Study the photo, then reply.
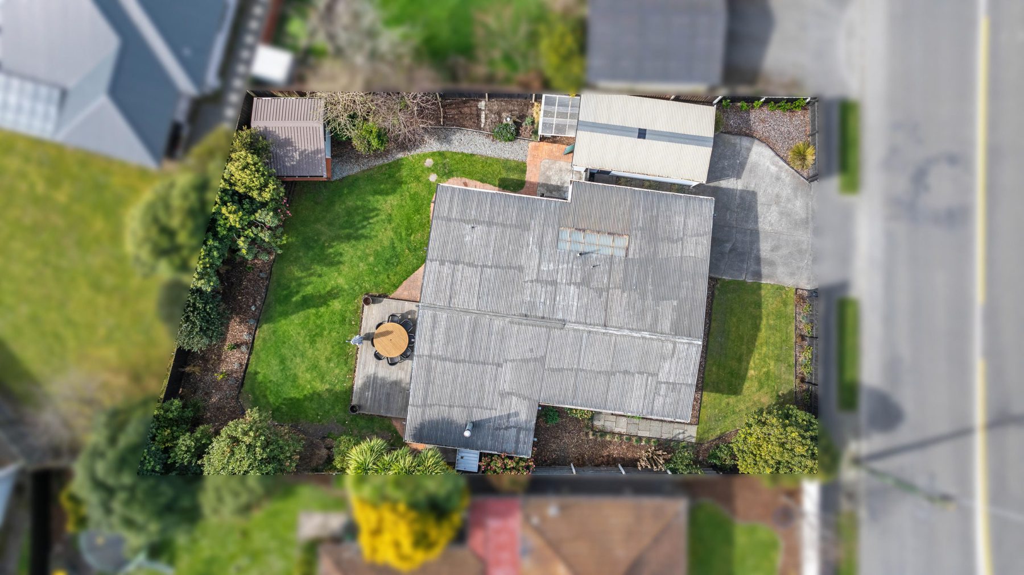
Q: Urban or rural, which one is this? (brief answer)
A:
urban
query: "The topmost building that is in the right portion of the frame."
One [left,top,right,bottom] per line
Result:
[588,0,726,94]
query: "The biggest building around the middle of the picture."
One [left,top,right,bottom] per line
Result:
[401,177,718,460]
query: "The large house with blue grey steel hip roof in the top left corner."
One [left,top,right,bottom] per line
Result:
[0,0,232,170]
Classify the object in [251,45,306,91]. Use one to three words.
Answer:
shed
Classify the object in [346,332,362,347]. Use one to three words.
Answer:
umbrella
